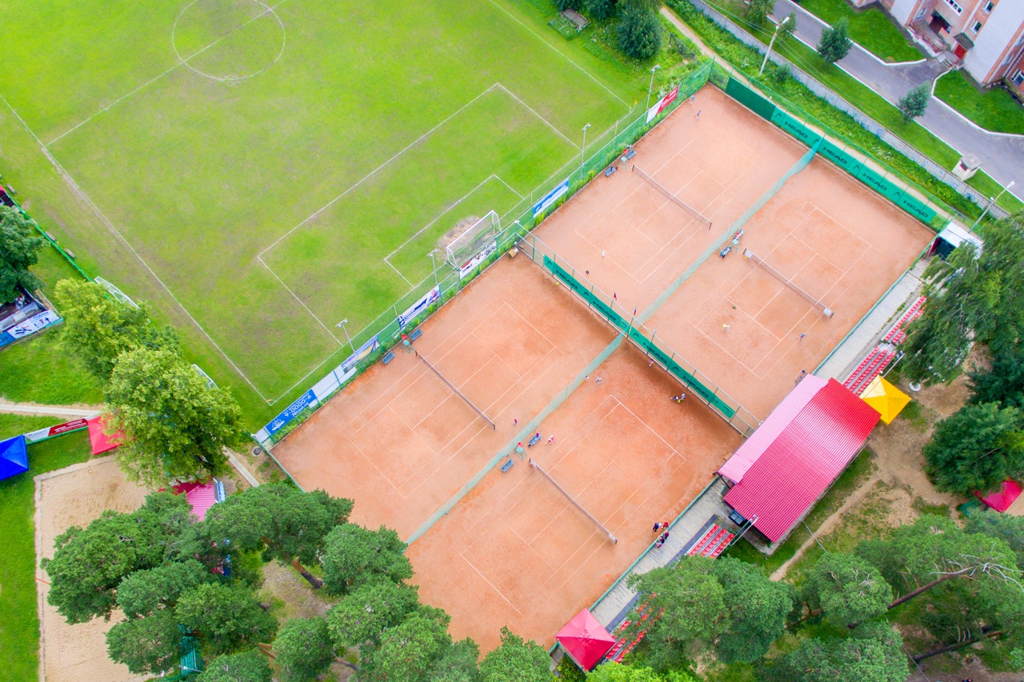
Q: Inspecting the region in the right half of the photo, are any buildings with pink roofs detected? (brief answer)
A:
Yes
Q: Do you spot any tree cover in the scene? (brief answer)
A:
Yes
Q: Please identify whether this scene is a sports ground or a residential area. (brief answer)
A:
sports ground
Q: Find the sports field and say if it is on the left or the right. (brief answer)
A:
left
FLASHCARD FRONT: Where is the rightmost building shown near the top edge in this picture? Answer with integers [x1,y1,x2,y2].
[850,0,1024,95]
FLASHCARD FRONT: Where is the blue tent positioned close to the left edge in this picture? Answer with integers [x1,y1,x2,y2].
[0,436,40,482]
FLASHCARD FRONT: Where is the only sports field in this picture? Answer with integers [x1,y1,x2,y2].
[0,0,666,445]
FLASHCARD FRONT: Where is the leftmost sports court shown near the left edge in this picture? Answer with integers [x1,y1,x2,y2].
[34,447,178,682]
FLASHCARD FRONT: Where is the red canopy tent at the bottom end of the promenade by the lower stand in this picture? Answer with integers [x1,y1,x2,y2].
[556,608,616,671]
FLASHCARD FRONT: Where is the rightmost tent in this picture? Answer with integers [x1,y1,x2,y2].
[968,479,1021,516]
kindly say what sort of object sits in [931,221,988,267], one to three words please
shed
